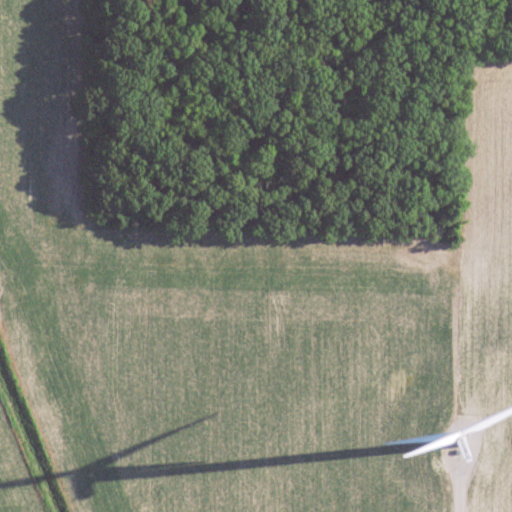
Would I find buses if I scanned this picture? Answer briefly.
No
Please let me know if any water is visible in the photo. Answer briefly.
No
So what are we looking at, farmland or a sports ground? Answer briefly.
farmland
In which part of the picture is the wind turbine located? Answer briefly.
bottom right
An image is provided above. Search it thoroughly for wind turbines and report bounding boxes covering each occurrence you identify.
[383,410,512,462]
